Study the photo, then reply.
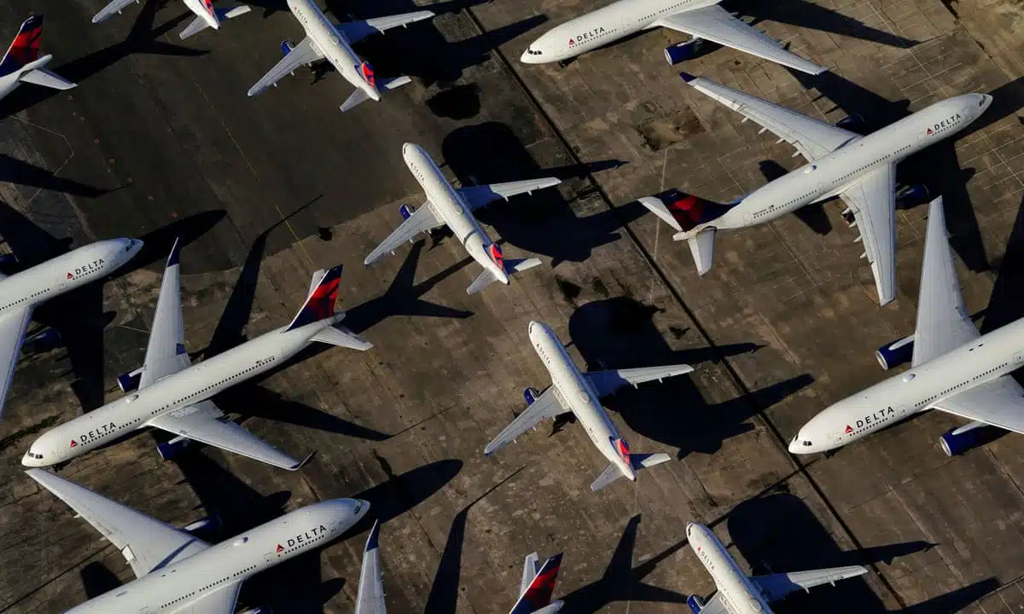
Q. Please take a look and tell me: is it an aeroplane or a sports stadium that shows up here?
aeroplane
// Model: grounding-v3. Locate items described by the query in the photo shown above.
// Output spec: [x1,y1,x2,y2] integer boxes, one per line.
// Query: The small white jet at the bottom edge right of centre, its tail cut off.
[683,523,867,614]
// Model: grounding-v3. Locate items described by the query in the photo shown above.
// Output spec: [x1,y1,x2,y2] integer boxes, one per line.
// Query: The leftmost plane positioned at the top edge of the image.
[0,12,78,95]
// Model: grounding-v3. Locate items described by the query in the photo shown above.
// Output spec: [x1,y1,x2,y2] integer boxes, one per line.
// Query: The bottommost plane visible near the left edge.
[24,465,371,614]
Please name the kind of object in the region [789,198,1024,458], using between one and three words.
airplane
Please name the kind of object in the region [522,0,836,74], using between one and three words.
airplane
